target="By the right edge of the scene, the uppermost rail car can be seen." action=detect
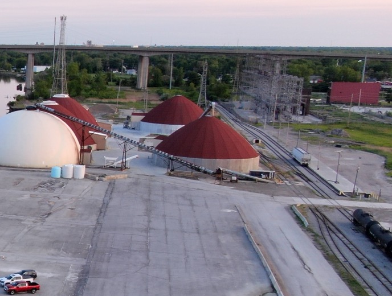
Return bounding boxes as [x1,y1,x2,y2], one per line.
[355,209,386,239]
